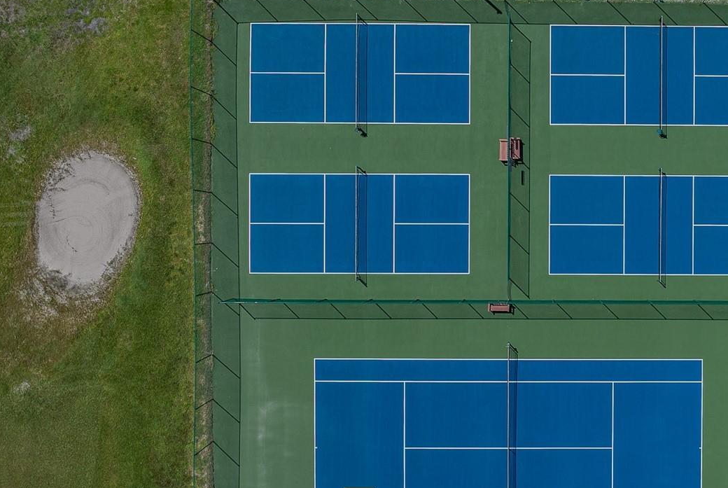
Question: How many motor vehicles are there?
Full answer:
There are no motor vehicles in this view.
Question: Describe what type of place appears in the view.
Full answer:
It's a sports ground.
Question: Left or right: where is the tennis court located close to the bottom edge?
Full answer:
It is on the right.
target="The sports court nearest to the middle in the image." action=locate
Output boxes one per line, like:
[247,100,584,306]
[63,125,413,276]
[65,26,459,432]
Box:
[250,173,470,274]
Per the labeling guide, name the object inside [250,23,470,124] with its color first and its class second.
blue sports court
